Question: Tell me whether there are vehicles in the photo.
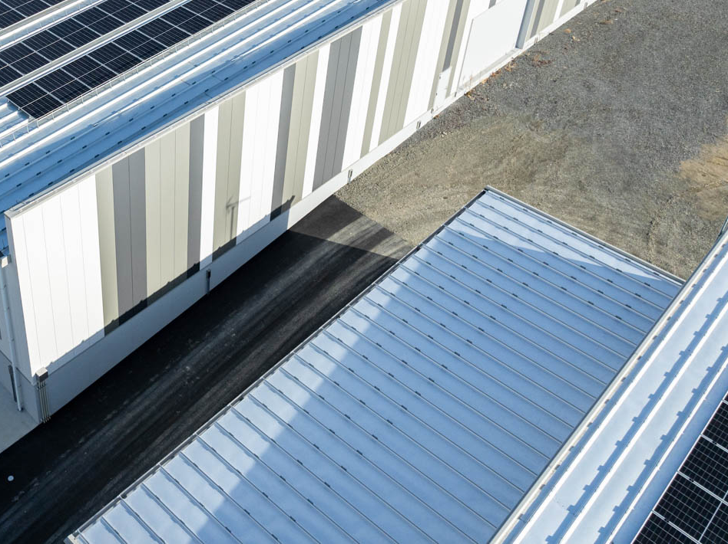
No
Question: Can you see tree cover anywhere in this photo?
No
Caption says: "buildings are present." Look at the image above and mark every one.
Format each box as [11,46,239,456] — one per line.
[71,181,687,544]
[0,0,595,424]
